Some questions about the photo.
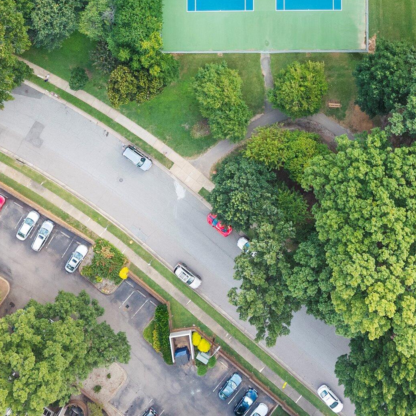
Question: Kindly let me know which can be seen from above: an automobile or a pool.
automobile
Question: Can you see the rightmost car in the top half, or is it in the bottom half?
bottom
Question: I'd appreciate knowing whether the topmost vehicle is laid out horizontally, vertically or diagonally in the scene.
diagonally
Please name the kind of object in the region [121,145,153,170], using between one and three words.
vehicle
